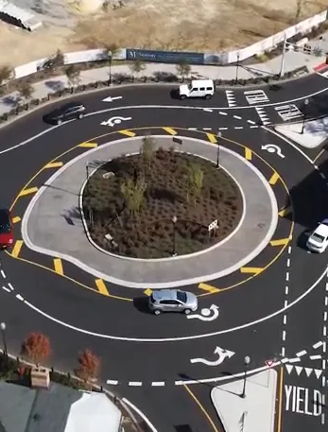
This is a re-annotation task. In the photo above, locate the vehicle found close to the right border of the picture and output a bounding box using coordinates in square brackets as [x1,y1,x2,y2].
[306,218,328,251]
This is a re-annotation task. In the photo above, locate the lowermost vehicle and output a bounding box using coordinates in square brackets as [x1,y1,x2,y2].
[147,287,198,314]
